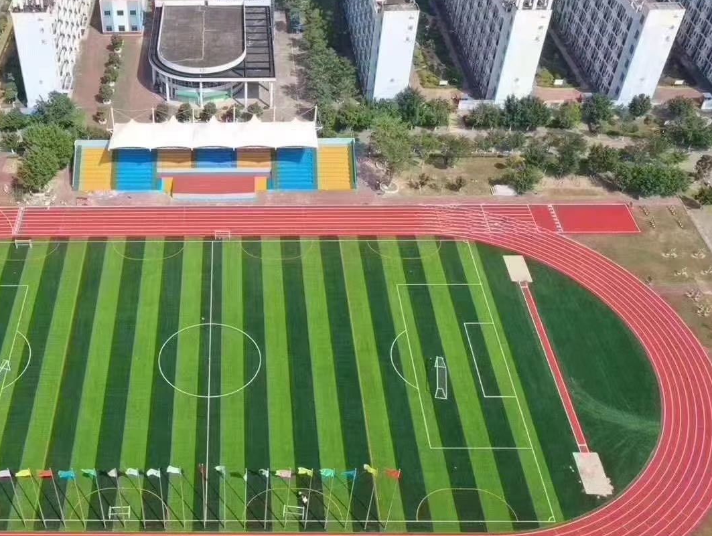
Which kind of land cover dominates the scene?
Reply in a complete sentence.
The bulk of the photo consists of grass.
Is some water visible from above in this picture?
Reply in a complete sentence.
No, there's no water in this view.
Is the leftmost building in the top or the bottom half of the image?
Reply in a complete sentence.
You can find the leftmost building in the top half.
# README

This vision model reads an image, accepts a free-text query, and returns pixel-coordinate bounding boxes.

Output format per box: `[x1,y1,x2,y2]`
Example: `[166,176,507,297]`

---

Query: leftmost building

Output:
[10,0,99,105]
